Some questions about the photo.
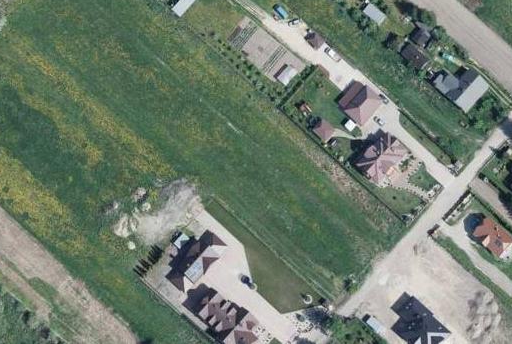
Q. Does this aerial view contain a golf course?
No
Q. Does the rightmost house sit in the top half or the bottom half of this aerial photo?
bottom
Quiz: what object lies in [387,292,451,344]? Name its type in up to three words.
house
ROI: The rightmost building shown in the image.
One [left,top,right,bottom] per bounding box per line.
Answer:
[472,219,512,258]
